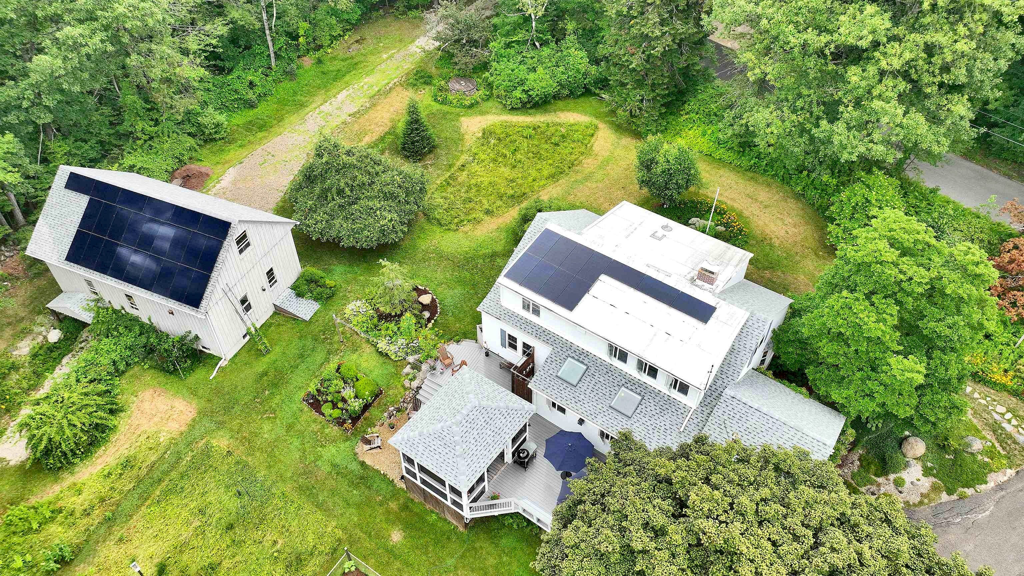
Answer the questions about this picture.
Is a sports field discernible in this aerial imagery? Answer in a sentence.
No, there is no sports field in the image.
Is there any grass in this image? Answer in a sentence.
Yes, some grass is visible.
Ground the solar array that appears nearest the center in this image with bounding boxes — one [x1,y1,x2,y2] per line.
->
[504,227,717,322]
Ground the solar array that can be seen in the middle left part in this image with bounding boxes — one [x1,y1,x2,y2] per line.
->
[62,172,229,308]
